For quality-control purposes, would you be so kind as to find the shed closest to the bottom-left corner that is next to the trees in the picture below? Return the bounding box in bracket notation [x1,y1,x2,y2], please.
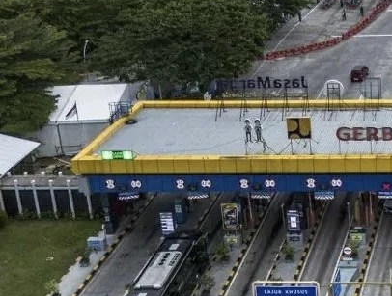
[0,131,35,186]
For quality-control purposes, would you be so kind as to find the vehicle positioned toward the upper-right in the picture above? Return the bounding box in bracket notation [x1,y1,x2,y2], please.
[350,60,375,81]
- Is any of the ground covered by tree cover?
Yes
